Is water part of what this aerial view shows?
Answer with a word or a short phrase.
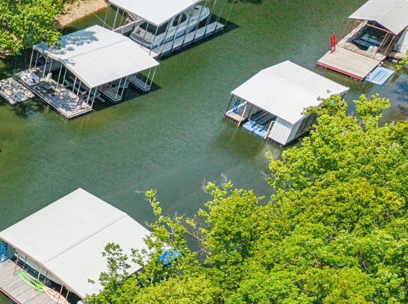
Yes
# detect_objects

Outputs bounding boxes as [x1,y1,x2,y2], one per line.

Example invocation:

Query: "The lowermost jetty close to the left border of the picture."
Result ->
[0,188,163,304]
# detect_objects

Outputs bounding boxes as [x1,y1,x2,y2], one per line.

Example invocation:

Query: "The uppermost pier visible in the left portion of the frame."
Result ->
[67,0,226,61]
